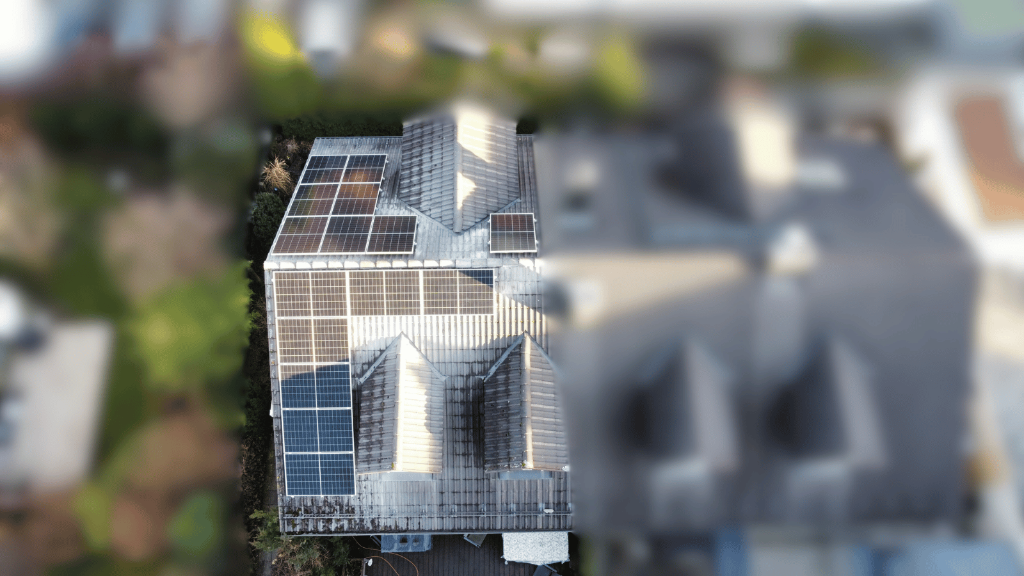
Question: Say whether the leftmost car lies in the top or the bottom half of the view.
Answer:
top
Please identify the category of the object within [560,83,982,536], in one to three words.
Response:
house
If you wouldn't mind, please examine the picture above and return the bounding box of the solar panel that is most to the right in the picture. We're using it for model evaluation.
[486,213,540,251]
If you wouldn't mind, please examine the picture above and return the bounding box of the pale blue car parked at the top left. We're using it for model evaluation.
[108,0,169,52]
